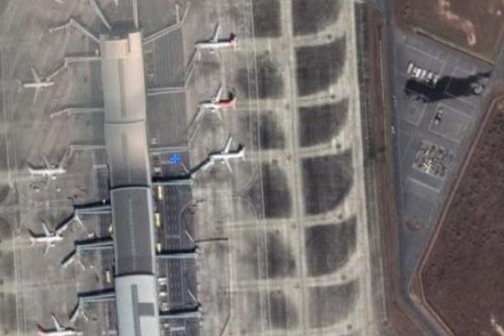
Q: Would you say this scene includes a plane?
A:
Yes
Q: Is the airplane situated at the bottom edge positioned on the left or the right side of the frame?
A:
left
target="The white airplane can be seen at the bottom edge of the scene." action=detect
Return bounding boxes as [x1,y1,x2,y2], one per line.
[37,316,77,336]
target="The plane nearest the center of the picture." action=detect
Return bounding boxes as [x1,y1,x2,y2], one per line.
[210,136,245,172]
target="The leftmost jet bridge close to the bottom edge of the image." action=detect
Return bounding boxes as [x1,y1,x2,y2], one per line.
[69,292,116,322]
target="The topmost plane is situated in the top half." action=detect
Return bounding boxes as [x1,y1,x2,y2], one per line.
[196,24,236,60]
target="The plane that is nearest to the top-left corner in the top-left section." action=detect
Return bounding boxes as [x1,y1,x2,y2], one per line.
[20,69,55,100]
